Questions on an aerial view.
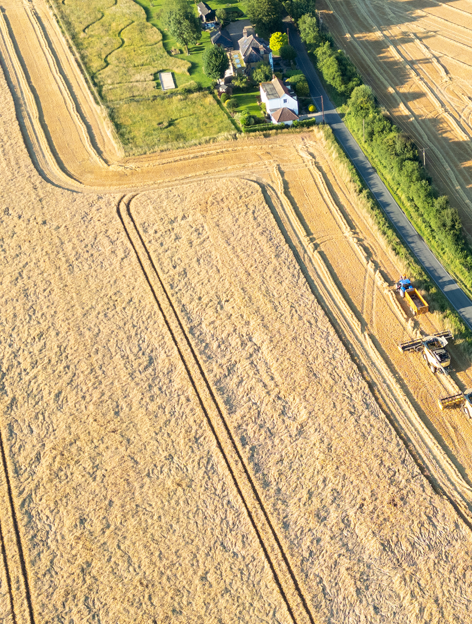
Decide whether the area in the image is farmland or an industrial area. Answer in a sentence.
It's farmland.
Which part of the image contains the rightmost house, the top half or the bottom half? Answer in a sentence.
The top half of the photo is where the rightmost house is.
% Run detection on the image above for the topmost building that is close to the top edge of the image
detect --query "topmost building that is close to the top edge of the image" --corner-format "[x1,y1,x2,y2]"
[195,0,217,22]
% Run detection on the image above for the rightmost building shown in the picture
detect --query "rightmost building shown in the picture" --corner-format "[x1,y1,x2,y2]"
[259,71,302,128]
